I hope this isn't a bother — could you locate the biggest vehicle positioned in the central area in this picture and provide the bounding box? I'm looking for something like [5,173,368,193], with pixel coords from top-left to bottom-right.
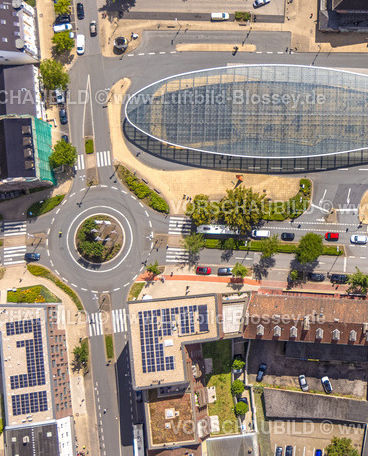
[195,224,241,237]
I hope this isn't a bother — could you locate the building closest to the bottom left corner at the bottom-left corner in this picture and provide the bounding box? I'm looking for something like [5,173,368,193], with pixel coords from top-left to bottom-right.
[7,421,75,456]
